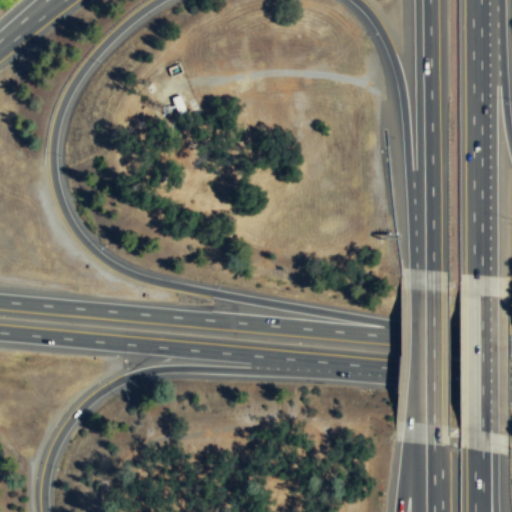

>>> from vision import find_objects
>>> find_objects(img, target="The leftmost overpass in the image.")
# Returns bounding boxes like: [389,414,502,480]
[396,270,450,446]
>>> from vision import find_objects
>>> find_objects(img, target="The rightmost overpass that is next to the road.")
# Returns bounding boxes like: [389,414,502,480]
[460,274,510,456]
